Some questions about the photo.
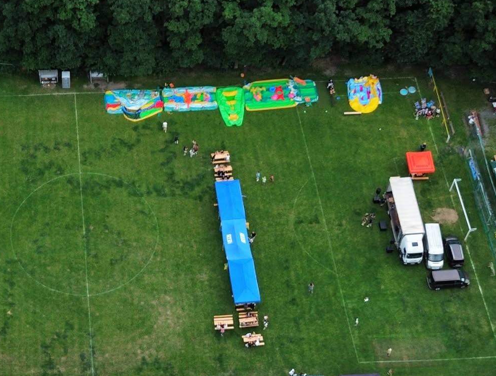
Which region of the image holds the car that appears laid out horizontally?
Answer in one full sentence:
Look in the bottom right portion of the view to spot the car that appears laid out horizontally.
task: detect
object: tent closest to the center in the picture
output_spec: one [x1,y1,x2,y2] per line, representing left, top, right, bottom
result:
[214,179,245,228]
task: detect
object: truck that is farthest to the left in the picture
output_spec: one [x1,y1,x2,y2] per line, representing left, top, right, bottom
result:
[387,177,427,266]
